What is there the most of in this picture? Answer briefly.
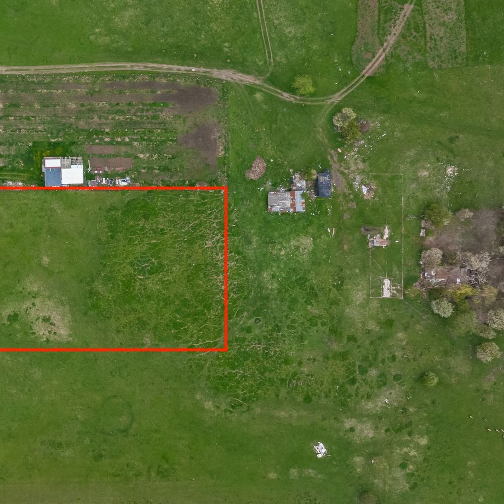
grass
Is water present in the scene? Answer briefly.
No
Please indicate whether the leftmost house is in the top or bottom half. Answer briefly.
top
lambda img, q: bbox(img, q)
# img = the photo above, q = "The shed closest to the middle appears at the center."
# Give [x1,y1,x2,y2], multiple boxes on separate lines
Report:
[266,191,305,212]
